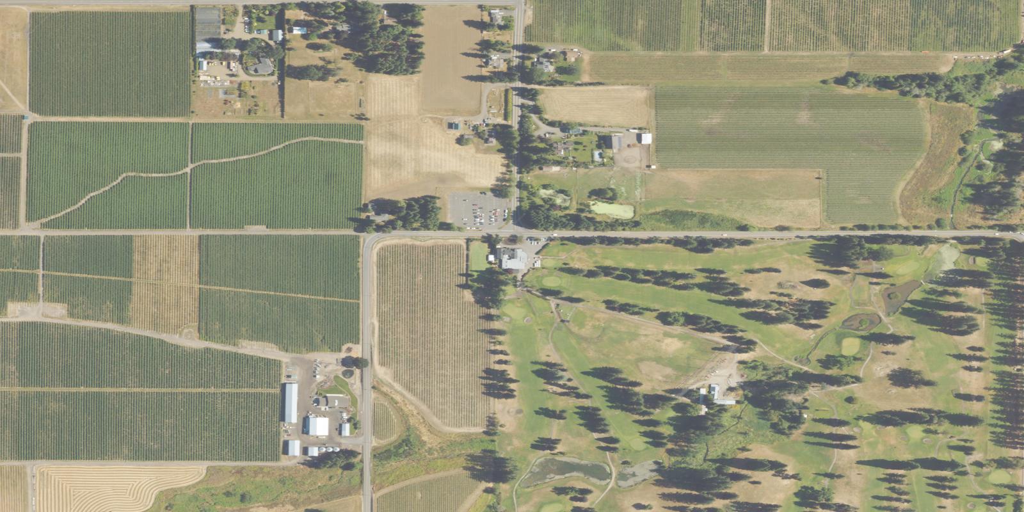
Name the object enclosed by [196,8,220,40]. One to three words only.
house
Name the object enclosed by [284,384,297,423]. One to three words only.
barn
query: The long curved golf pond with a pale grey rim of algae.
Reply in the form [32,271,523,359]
[519,455,610,488]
